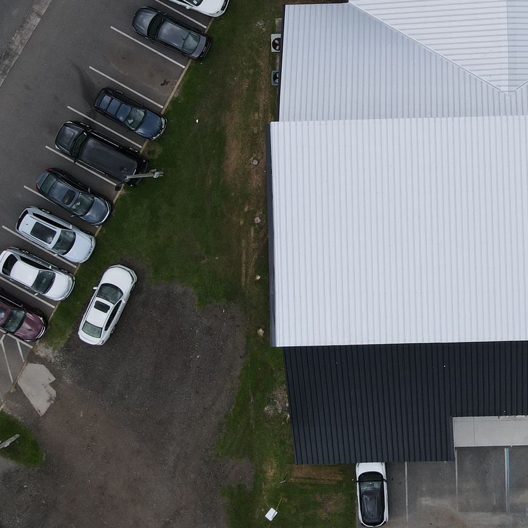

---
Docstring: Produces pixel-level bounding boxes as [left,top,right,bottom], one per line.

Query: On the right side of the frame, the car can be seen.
[352,463,388,528]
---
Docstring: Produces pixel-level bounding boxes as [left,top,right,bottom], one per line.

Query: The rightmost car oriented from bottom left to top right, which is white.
[73,268,134,348]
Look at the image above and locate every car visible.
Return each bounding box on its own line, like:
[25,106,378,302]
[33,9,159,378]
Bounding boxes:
[73,268,134,348]
[172,0,226,18]
[6,207,90,265]
[352,463,388,528]
[46,121,144,188]
[0,295,42,342]
[82,85,164,141]
[26,169,109,226]
[0,246,69,304]
[129,3,208,61]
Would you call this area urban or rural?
urban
